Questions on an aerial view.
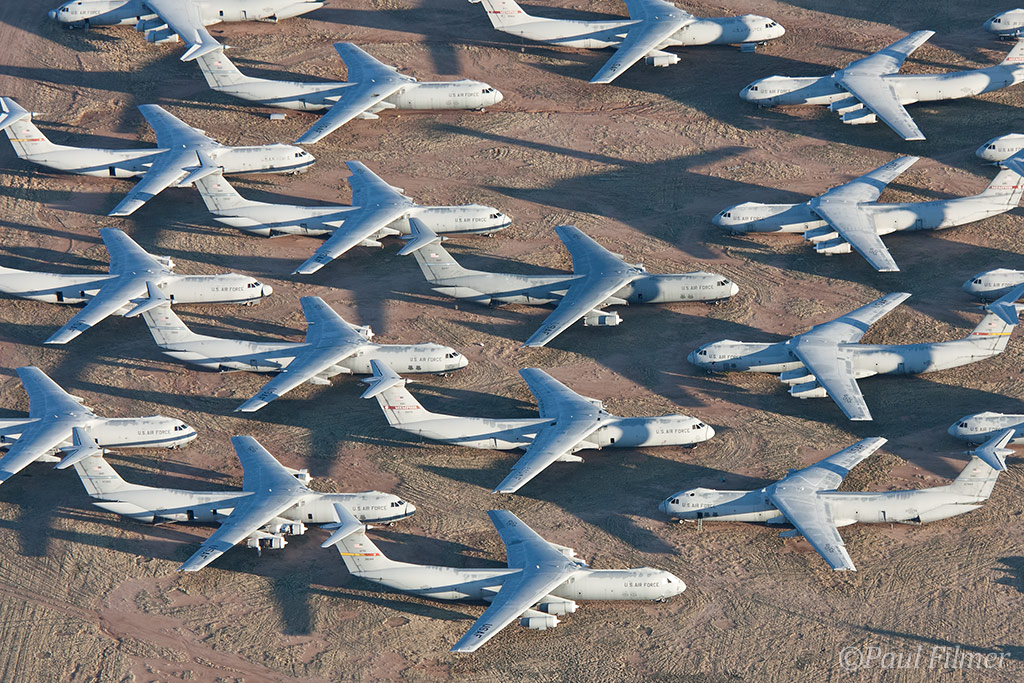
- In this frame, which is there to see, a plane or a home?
plane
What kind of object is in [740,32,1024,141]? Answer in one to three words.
airplane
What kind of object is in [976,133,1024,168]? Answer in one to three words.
airplane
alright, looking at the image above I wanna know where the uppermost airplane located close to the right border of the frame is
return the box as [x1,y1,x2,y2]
[984,6,1024,40]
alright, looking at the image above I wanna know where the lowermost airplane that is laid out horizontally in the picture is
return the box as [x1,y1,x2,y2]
[320,504,688,652]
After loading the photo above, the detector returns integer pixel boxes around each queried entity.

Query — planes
[962,268,1024,305]
[49,0,330,55]
[397,218,739,349]
[0,229,272,346]
[948,412,1024,450]
[0,367,197,486]
[182,29,503,146]
[660,430,1019,572]
[320,504,688,652]
[470,0,785,85]
[740,32,1024,141]
[124,281,469,413]
[359,360,715,495]
[712,151,1024,273]
[56,428,416,572]
[984,6,1024,40]
[0,96,316,217]
[976,133,1024,168]
[688,287,1024,422]
[179,150,513,276]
